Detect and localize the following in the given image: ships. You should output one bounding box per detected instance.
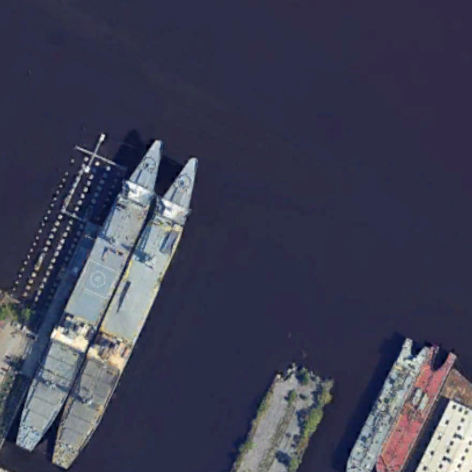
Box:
[52,158,197,471]
[377,345,456,472]
[16,141,163,452]
[347,339,431,472]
